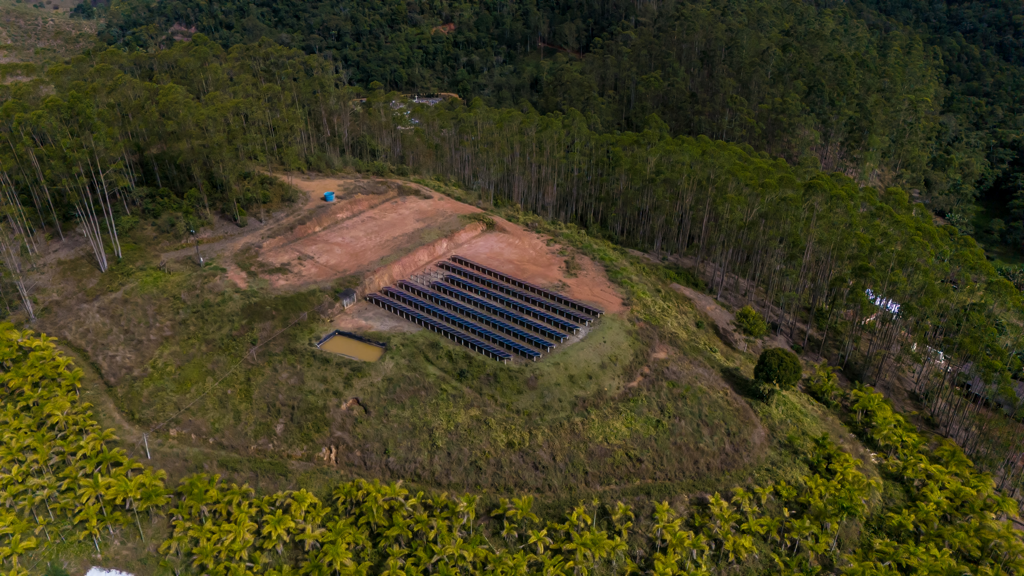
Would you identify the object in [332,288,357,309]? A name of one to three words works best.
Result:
shed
